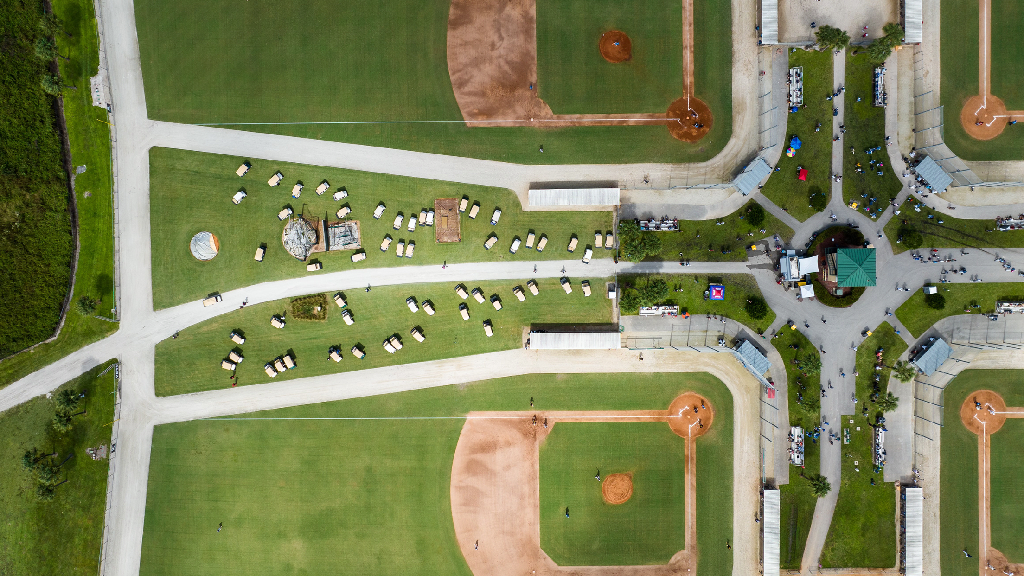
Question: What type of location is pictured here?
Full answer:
What you see here is a sports ground.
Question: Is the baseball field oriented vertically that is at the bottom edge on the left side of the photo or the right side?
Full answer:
The baseball field oriented vertically that is at the bottom edge appears in the right half of the scene.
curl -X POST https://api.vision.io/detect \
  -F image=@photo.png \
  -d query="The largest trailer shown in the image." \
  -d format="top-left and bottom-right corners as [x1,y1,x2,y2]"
[775,251,803,287]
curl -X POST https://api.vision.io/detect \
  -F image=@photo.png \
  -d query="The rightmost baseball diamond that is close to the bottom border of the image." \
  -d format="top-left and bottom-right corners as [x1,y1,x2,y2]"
[940,369,1024,576]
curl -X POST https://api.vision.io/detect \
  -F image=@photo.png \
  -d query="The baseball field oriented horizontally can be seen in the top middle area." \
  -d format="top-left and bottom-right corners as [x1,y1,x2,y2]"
[133,0,732,165]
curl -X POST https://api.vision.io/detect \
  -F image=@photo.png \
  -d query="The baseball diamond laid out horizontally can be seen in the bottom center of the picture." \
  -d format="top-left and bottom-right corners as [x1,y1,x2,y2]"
[139,372,734,576]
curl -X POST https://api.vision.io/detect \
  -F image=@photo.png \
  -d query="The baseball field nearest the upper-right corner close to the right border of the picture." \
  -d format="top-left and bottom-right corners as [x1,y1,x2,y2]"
[940,0,1024,161]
